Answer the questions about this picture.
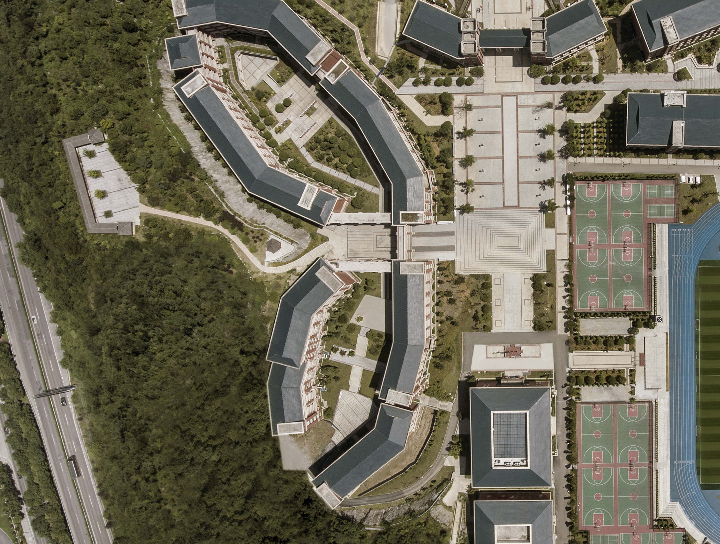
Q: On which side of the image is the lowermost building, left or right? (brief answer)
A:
right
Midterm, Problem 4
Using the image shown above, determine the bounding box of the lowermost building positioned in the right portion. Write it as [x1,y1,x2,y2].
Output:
[473,493,554,544]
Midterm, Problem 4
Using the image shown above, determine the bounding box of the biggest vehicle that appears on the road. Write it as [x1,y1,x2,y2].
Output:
[65,455,80,481]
